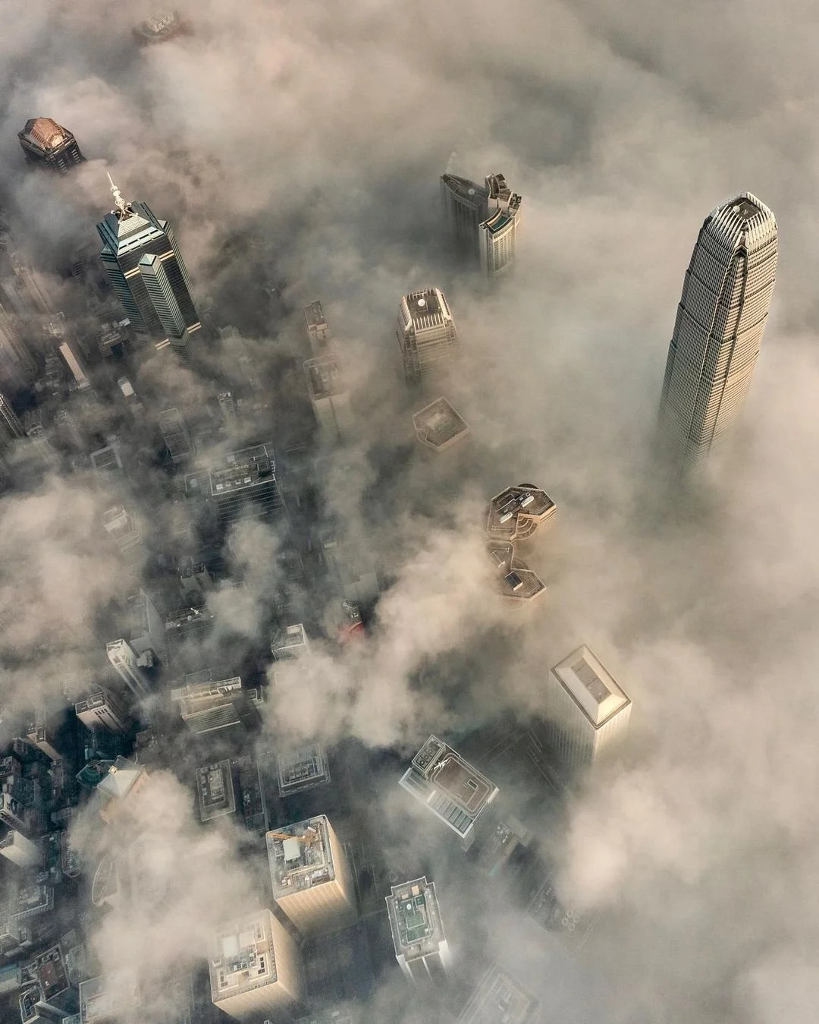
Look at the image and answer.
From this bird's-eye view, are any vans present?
No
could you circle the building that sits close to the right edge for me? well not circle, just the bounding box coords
[644,189,785,567]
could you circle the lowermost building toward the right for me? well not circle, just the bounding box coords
[457,964,542,1024]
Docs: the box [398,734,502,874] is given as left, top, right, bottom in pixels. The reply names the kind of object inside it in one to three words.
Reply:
building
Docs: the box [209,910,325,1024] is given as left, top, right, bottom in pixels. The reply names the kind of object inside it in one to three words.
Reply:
building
